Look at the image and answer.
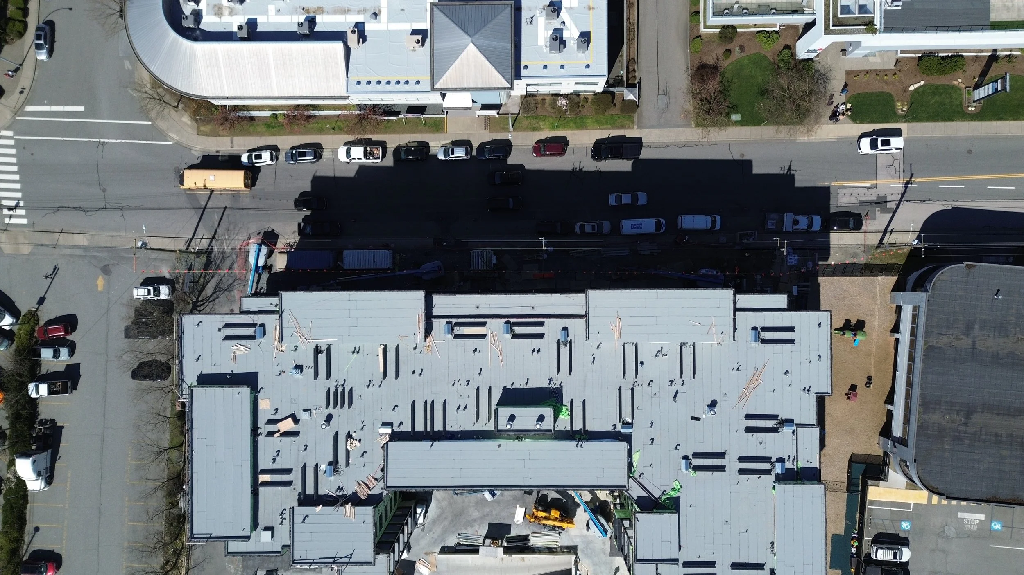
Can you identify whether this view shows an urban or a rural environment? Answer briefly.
urban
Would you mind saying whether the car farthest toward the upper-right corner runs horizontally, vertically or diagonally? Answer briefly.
horizontally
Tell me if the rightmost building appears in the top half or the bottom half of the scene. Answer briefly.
bottom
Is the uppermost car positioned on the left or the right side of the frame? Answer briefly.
left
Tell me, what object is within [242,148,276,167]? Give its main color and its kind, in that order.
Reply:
white car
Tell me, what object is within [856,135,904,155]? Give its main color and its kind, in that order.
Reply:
white car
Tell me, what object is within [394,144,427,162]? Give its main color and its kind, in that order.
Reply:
black car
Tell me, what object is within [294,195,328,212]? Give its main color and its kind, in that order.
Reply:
black car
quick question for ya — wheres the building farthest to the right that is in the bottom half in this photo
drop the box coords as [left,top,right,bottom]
[878,260,1024,508]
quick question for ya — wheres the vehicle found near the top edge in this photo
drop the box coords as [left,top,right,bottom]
[33,24,54,62]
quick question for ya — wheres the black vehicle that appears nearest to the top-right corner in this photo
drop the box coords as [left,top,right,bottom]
[826,212,863,230]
